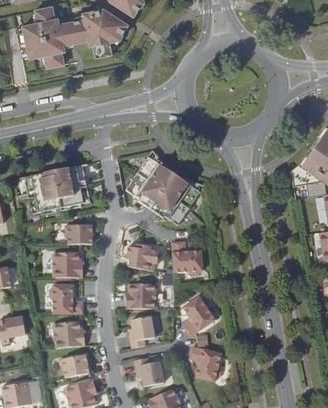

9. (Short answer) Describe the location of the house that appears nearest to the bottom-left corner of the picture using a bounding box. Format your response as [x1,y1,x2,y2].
[4,380,43,408]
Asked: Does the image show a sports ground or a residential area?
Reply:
residential area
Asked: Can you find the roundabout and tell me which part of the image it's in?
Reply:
top right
